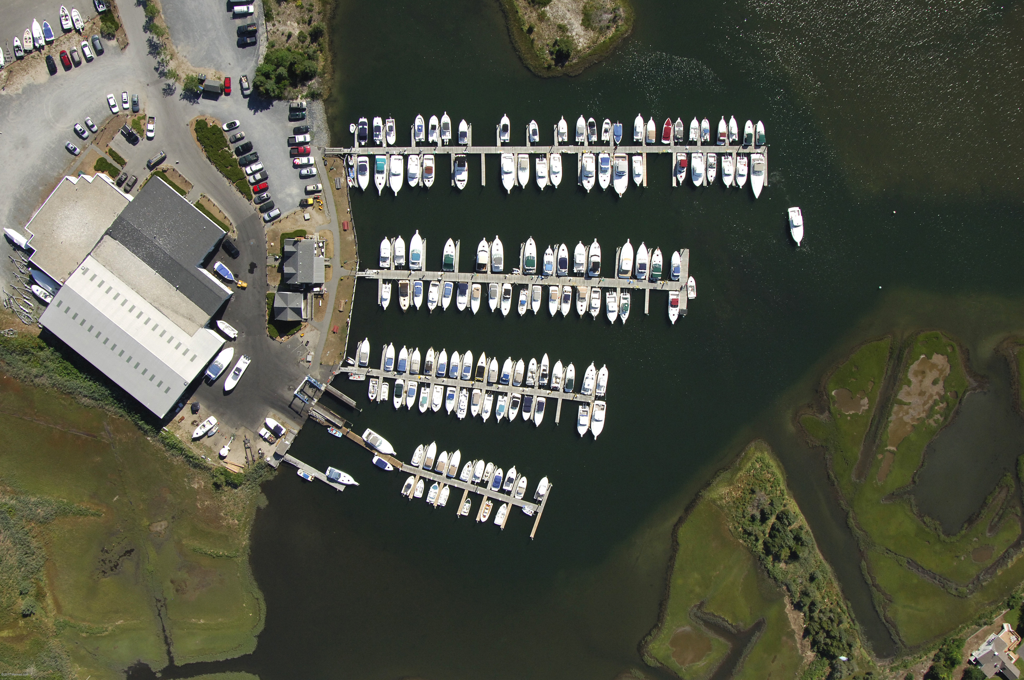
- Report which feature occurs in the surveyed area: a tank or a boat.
boat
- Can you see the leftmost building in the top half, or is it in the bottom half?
top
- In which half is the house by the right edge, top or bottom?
bottom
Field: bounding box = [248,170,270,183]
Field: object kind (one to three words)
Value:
vehicle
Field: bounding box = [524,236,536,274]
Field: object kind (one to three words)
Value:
boat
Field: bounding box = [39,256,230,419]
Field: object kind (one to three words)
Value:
shed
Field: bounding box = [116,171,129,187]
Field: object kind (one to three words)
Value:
vehicle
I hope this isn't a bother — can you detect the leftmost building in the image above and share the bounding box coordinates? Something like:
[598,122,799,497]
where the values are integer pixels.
[25,173,133,286]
